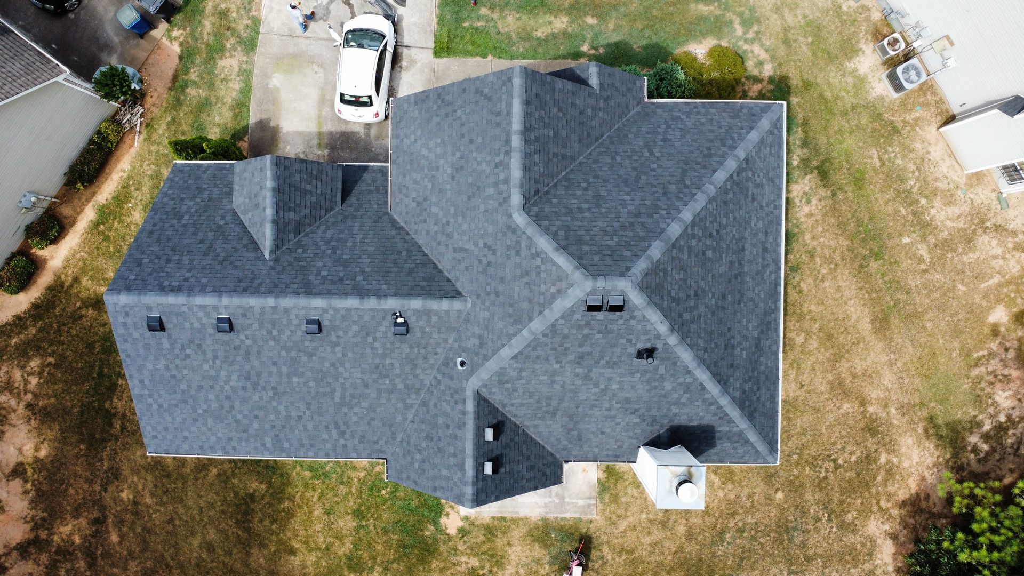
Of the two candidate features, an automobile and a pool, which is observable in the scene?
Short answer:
automobile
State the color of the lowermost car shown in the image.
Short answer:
white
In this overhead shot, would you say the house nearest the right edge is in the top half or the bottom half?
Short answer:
top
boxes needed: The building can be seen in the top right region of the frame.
[882,0,1024,201]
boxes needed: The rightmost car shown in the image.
[328,10,395,125]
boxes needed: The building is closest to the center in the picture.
[103,62,787,509]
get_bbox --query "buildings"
[882,0,1024,201]
[0,16,118,264]
[103,62,787,509]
